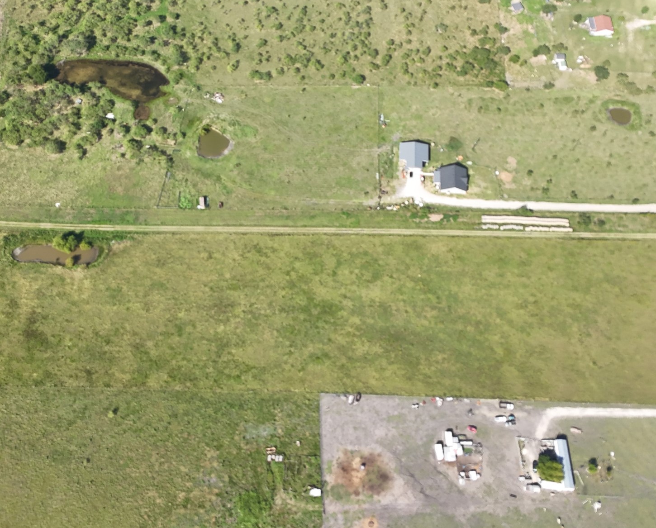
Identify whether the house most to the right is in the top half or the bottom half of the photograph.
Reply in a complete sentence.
You can find the house most to the right in the top half.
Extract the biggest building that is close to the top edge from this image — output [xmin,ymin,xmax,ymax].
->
[583,14,614,39]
